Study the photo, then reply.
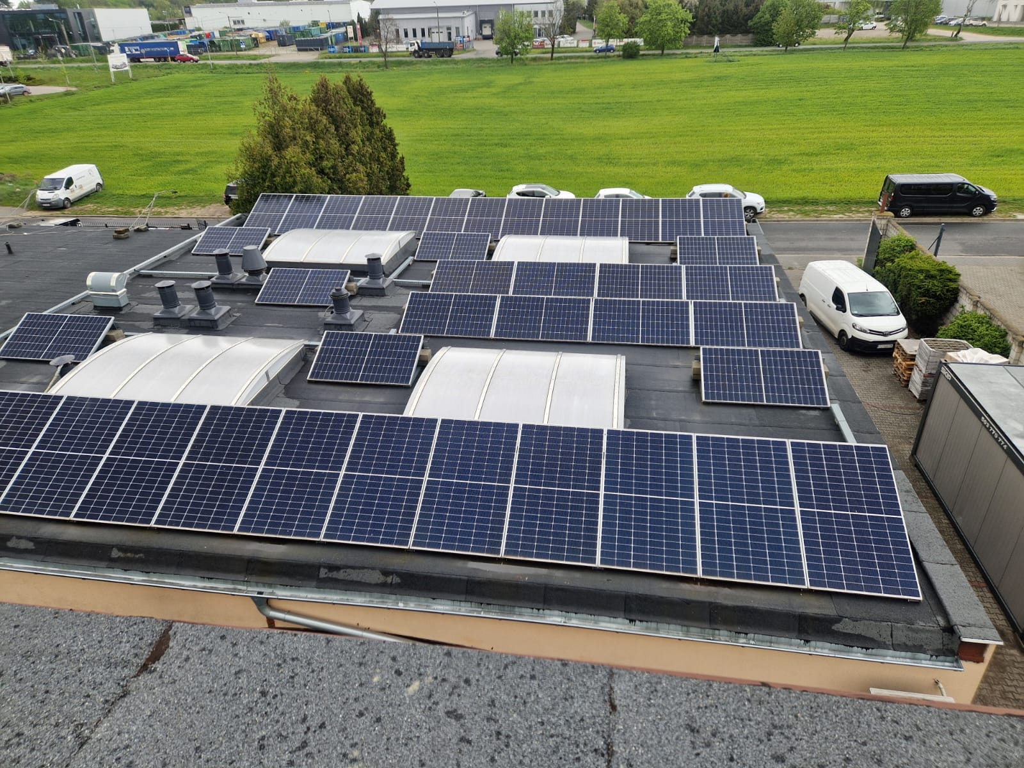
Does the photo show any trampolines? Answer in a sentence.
No, no trampoline is visible in the view.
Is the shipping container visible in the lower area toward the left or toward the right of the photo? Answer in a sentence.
The shipping container visible in the lower area is on the right side of the image.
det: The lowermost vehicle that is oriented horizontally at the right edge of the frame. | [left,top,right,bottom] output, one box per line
[874,169,998,214]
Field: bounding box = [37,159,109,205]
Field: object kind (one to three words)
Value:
van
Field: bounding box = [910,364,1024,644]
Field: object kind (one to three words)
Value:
shipping container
